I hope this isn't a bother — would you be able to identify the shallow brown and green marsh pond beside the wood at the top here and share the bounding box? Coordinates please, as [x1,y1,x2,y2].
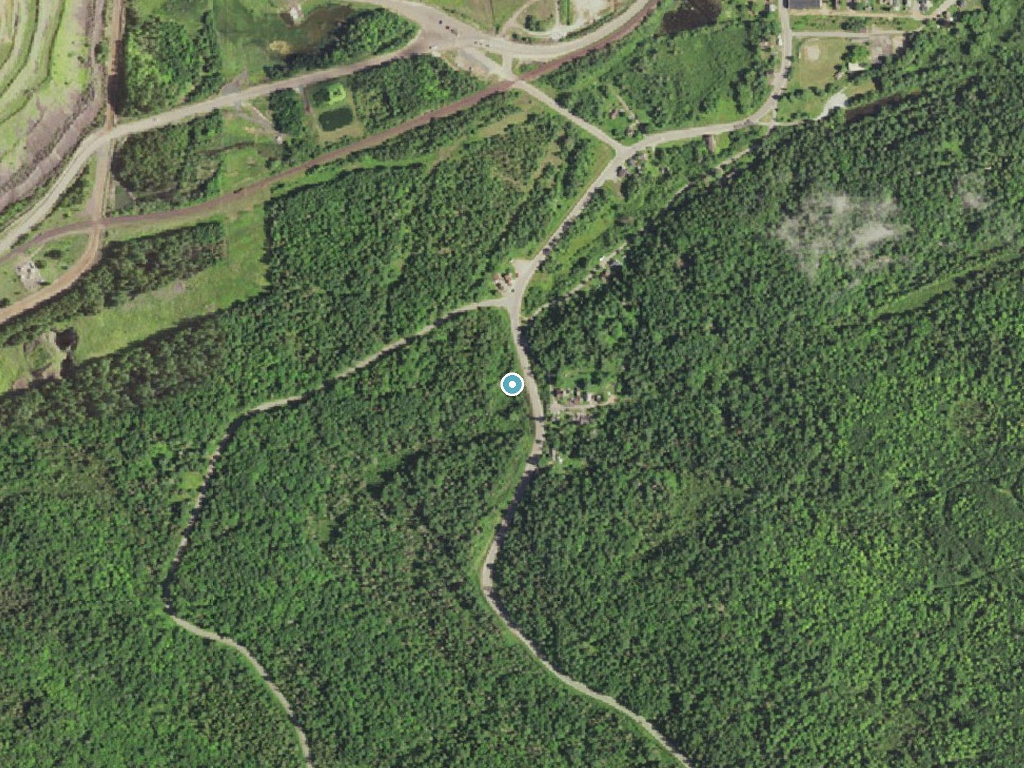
[290,5,363,56]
